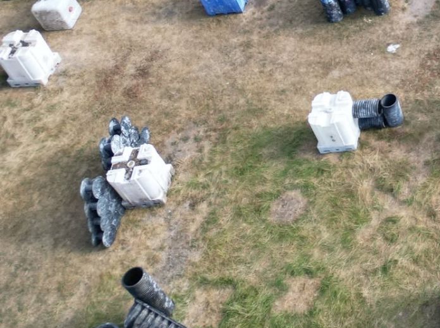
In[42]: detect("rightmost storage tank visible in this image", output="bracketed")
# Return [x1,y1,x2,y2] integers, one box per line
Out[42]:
[312,97,359,154]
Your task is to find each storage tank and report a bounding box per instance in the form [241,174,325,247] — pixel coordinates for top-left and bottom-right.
[114,150,173,208]
[312,97,359,154]
[0,37,57,86]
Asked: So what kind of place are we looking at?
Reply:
industrial area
